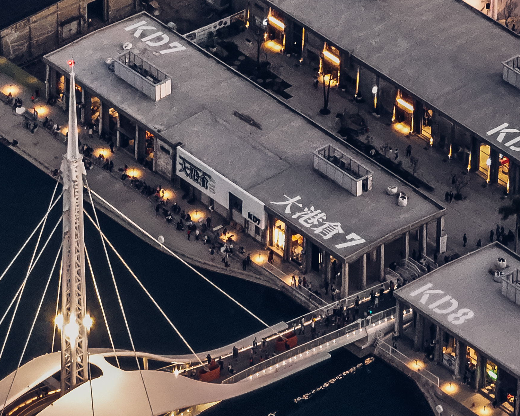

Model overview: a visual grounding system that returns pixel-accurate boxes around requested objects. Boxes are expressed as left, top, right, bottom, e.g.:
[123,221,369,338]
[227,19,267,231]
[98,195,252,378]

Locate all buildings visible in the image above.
[395,239,520,410]
[44,9,447,291]
[229,0,520,196]
[0,0,148,64]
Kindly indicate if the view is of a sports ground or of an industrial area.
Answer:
industrial area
